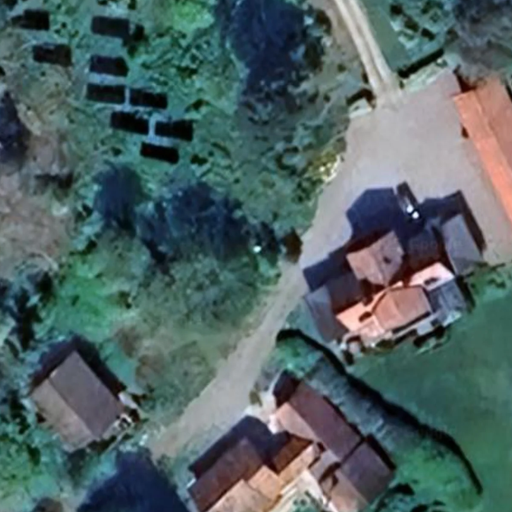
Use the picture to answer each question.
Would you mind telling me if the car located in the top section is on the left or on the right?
right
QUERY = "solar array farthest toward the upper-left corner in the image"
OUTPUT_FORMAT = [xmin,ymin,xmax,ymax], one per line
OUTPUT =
[24,9,53,29]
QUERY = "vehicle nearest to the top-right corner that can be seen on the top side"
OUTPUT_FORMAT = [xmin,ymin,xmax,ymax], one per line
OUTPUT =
[395,182,424,222]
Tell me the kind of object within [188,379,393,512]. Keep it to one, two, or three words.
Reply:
house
